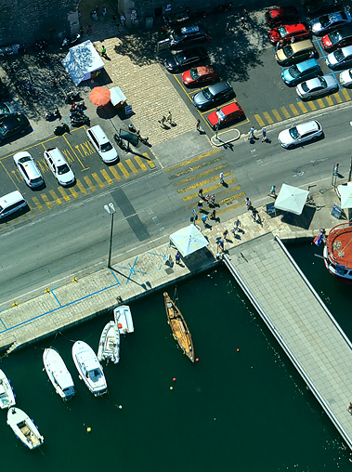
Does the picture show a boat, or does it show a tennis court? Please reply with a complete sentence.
I can see a boat in this picture.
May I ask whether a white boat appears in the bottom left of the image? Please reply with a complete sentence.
Yes, in the bottom left of the image there is a white boat.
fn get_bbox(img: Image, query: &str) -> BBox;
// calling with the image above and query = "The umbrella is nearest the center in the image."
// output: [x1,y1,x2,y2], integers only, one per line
[167,222,212,260]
